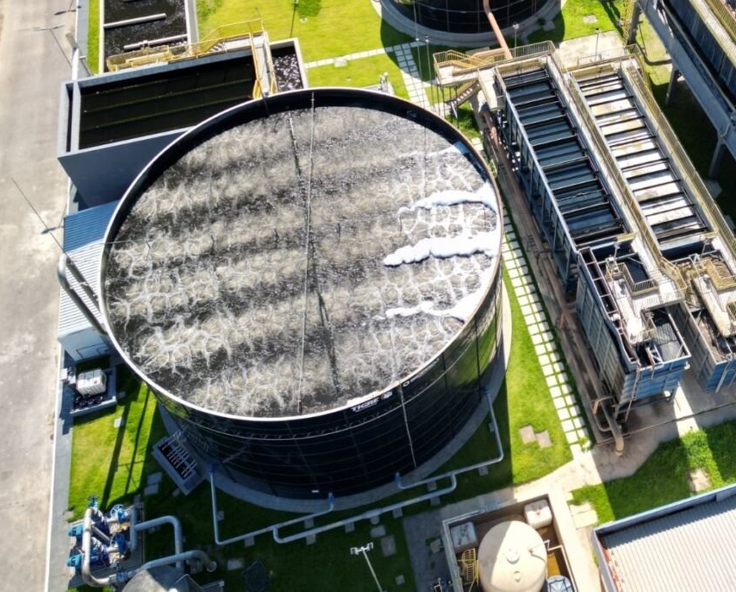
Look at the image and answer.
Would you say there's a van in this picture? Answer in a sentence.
No, this view has no van in it.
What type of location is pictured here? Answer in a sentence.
It's an industrial area.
